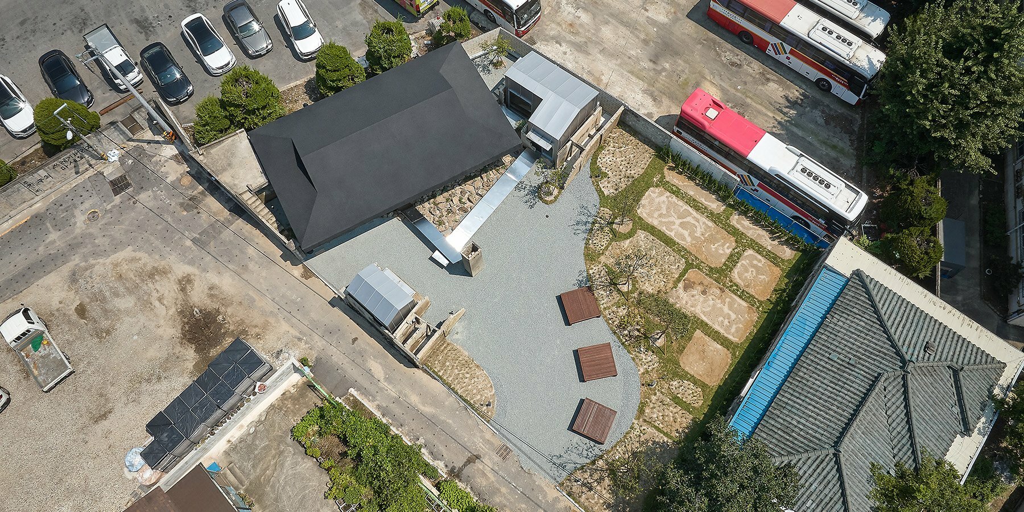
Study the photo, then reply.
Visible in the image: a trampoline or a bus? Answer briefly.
bus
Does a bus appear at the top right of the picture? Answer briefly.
Yes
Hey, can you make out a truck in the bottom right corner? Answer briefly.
No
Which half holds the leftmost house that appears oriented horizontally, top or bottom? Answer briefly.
bottom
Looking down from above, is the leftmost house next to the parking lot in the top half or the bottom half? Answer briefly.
top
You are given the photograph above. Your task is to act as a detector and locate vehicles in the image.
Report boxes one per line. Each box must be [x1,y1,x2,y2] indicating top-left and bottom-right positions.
[704,0,881,105]
[136,38,191,109]
[37,42,93,105]
[77,16,143,93]
[0,303,68,388]
[469,0,538,29]
[0,70,34,140]
[794,0,895,48]
[672,87,870,238]
[276,0,322,60]
[179,9,235,78]
[220,0,271,60]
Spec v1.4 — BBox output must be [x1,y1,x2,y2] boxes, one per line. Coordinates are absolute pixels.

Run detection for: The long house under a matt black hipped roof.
[248,37,522,253]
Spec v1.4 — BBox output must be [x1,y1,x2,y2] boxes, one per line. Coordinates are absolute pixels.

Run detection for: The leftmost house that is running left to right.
[123,461,240,512]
